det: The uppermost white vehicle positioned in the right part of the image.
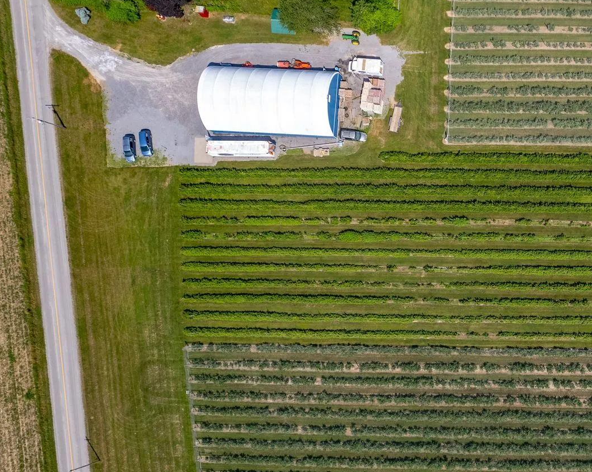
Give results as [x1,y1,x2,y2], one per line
[350,55,386,74]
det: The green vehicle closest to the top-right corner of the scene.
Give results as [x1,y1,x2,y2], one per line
[339,32,362,46]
